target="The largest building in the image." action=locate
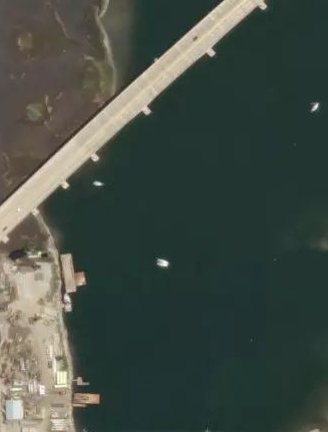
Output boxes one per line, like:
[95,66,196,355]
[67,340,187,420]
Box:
[4,399,27,423]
